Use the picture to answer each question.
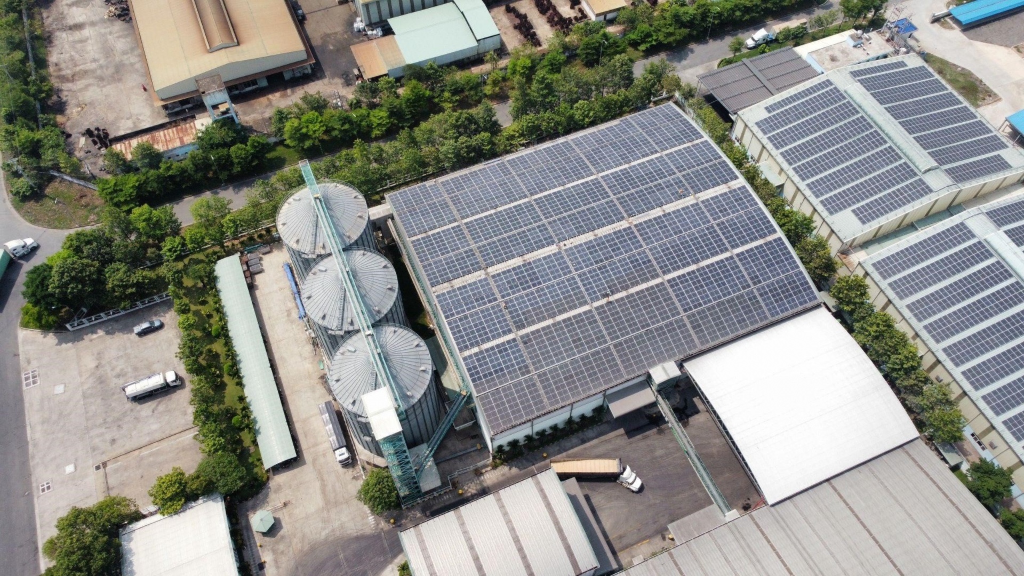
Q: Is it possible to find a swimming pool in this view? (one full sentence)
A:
No, I can't see a single swimming pool in this photo.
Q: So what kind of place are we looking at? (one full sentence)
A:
What you see here is an industrial area.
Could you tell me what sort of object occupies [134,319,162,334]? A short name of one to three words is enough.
vehicle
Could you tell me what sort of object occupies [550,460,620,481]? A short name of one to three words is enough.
trailer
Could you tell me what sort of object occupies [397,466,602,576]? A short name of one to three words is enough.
building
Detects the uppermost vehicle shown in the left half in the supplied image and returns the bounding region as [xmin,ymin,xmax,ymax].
[292,6,306,19]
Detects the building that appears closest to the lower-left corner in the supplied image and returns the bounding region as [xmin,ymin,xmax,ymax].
[117,489,244,576]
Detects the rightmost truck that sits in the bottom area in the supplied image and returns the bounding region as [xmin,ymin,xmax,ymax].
[604,467,648,496]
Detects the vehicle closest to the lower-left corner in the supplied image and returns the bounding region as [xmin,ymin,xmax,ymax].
[117,370,185,401]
